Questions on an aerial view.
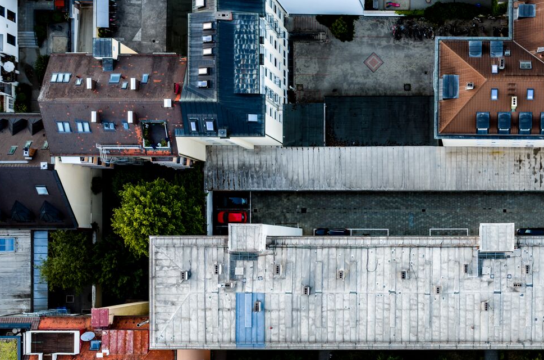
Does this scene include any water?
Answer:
No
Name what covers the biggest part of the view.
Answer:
buildings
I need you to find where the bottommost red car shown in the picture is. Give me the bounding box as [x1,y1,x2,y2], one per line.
[217,209,249,225]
